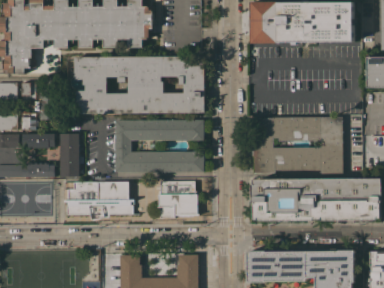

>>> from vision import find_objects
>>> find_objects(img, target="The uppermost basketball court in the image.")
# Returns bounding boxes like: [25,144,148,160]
[0,182,54,216]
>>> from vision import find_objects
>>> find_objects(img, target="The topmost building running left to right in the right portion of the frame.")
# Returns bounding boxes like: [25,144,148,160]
[250,3,355,44]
